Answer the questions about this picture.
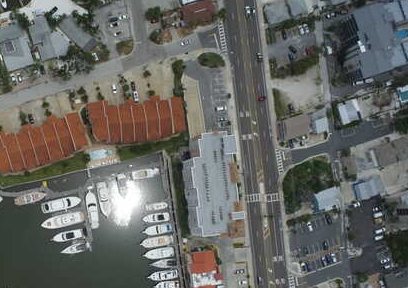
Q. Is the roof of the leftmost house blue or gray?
gray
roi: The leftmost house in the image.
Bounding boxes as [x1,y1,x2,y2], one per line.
[0,26,35,71]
